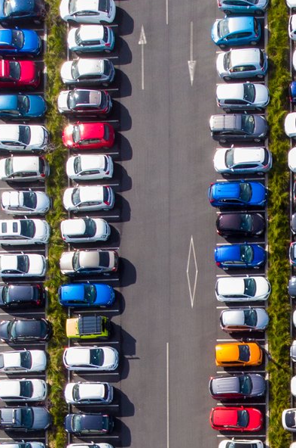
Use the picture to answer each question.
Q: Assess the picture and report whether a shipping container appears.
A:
No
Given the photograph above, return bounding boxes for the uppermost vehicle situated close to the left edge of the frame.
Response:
[0,0,46,30]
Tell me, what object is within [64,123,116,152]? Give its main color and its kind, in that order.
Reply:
red car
